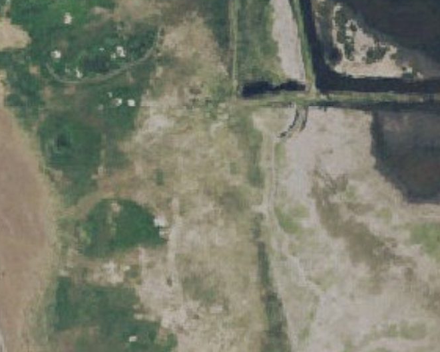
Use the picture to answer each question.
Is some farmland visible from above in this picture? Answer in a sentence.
No, the picture contains no farmland.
